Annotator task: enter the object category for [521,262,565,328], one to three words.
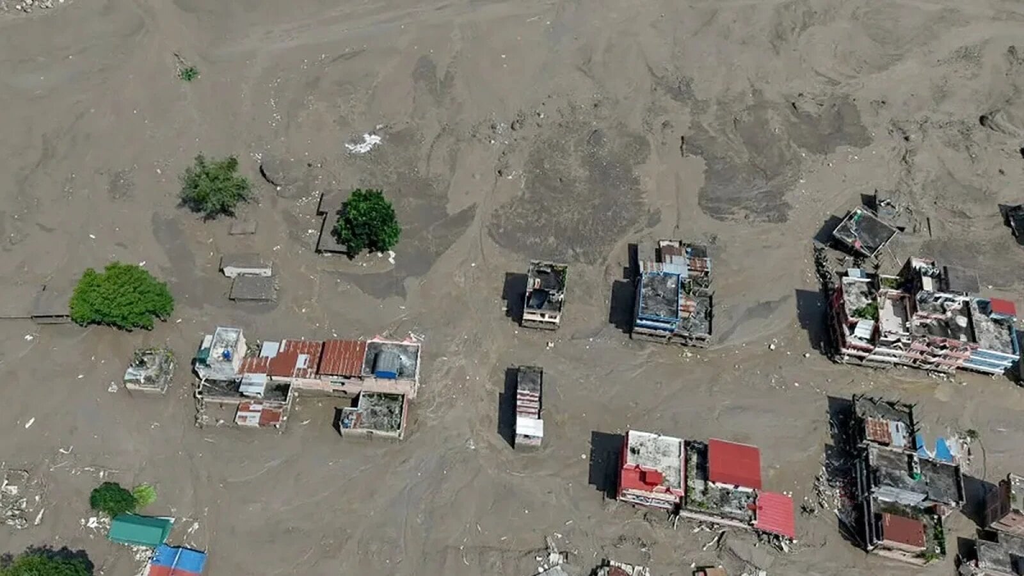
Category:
house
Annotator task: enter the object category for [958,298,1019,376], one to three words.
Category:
house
